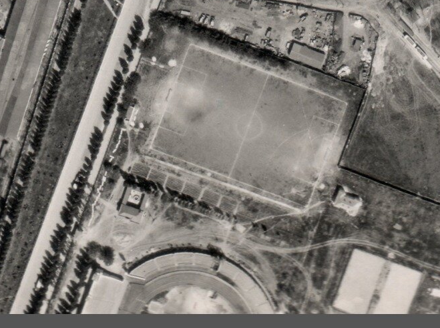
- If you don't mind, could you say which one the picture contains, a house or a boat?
house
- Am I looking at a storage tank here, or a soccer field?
soccer field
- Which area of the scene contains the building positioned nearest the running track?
bottom left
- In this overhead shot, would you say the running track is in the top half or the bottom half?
bottom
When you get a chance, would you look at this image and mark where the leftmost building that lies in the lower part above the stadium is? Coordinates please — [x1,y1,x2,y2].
[119,185,145,216]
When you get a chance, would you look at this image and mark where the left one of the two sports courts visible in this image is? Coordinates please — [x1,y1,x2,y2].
[333,249,386,319]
